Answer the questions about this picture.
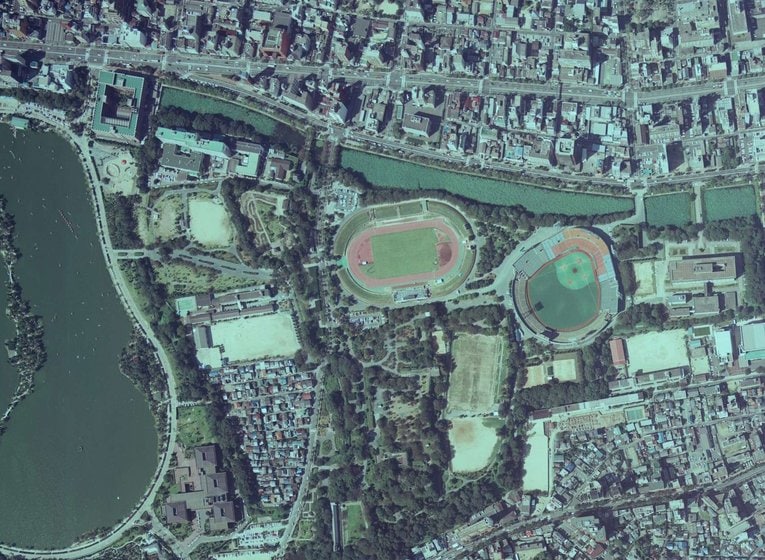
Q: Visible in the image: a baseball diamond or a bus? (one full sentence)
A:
I can see a baseball diamond in this picture.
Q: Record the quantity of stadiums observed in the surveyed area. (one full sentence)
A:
In total, 2 stadiums can be seen.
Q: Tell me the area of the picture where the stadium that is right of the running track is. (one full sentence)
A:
Look in the right portion of the view to spot the stadium that is right of the running track.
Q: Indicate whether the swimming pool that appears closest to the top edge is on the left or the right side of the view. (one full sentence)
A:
The swimming pool that appears closest to the top edge sits on the left side.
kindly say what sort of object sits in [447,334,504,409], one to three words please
sports field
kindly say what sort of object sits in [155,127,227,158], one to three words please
building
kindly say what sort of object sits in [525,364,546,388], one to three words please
tennis court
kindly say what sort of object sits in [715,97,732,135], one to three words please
building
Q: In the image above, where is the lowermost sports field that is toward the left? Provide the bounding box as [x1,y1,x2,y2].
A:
[211,311,300,363]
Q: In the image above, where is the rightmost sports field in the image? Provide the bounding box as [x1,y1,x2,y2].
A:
[627,329,690,376]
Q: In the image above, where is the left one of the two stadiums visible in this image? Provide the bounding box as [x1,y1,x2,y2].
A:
[327,198,481,306]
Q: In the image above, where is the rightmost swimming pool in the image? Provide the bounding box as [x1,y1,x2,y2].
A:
[687,326,713,339]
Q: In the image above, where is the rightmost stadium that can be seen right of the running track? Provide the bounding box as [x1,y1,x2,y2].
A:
[512,225,619,343]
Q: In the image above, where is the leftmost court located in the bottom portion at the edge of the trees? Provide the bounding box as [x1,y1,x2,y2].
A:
[197,346,222,368]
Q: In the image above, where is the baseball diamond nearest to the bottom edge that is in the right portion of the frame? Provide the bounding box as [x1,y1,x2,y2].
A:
[450,417,506,471]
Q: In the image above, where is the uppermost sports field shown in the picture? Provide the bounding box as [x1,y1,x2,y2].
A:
[355,225,453,279]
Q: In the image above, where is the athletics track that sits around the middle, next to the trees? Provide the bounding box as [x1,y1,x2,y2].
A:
[348,219,460,285]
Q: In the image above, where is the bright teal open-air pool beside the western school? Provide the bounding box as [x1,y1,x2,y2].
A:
[176,296,197,317]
